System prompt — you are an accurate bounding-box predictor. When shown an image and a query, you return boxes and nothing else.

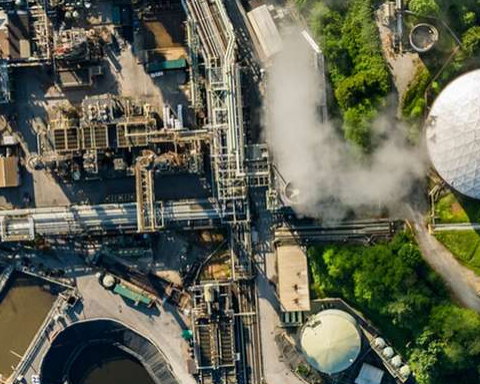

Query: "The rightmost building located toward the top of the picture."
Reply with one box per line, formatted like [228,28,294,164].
[272,48,322,163]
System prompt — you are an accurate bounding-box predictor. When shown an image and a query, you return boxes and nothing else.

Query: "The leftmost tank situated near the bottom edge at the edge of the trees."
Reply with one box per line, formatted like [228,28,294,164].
[297,305,363,373]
